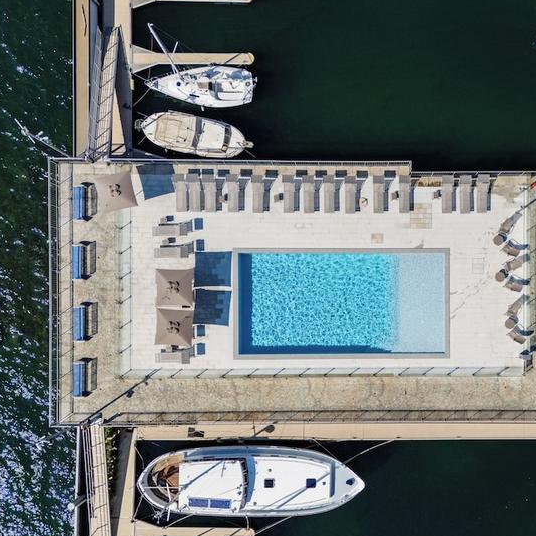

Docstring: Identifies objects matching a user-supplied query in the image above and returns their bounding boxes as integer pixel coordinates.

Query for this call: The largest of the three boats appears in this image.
[134,438,391,530]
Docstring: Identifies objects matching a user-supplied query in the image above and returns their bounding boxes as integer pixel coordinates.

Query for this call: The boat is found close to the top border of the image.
[131,22,259,143]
